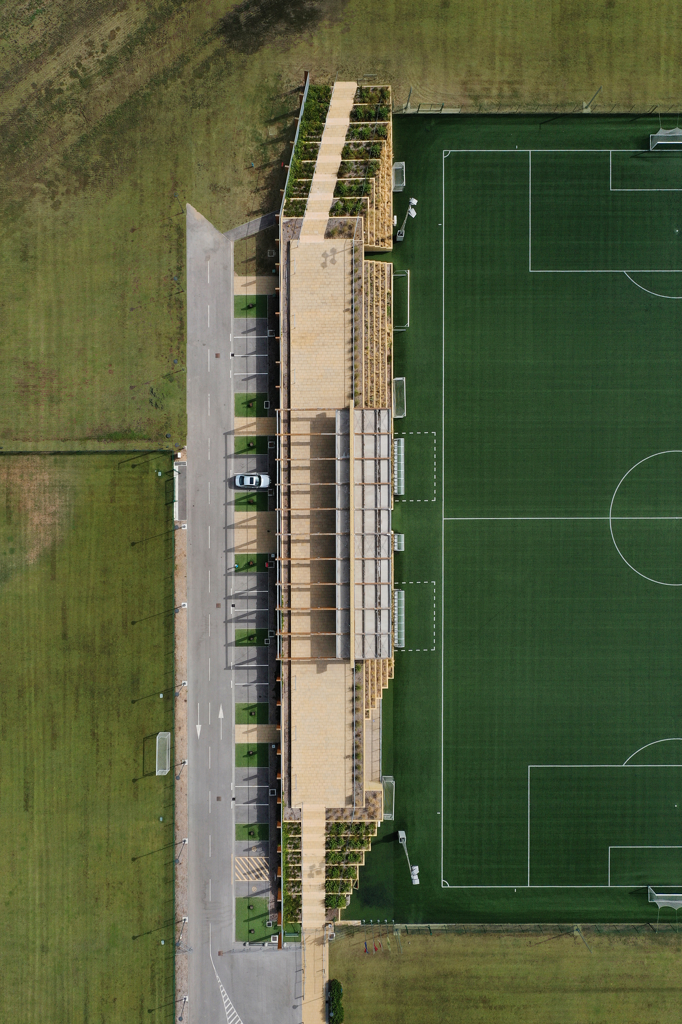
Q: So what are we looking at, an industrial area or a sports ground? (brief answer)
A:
sports ground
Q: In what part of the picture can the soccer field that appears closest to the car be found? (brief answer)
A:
right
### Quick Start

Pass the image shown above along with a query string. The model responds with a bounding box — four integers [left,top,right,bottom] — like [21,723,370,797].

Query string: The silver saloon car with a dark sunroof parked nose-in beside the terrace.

[235,473,271,489]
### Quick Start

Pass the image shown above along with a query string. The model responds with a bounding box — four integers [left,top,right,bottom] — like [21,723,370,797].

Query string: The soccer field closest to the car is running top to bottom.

[340,113,682,923]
